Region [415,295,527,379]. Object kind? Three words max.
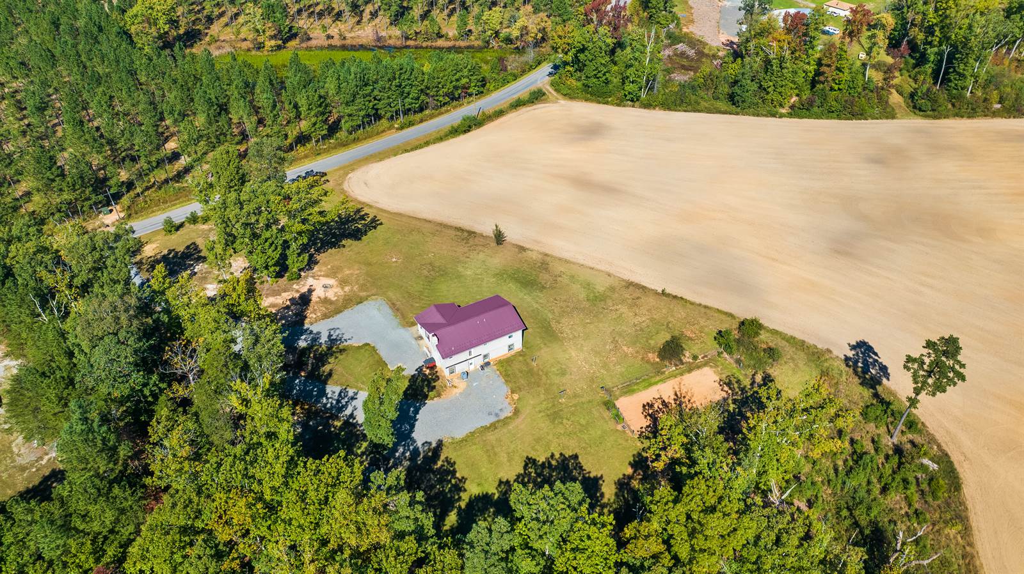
house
